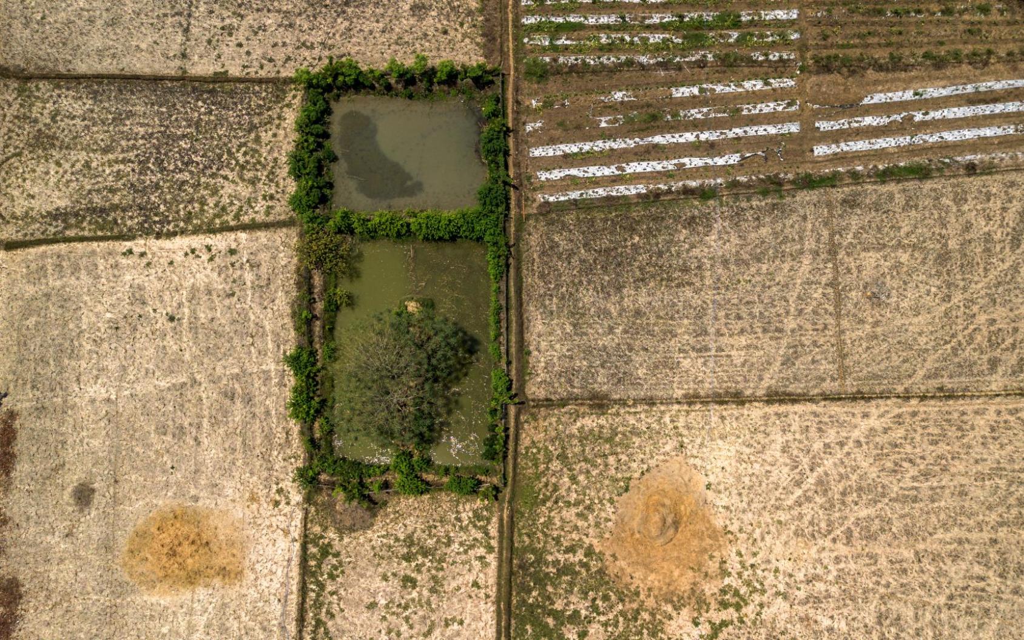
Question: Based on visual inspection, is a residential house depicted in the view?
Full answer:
No, there's no residential house here.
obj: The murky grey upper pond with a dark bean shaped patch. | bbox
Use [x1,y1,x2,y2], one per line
[330,95,489,213]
